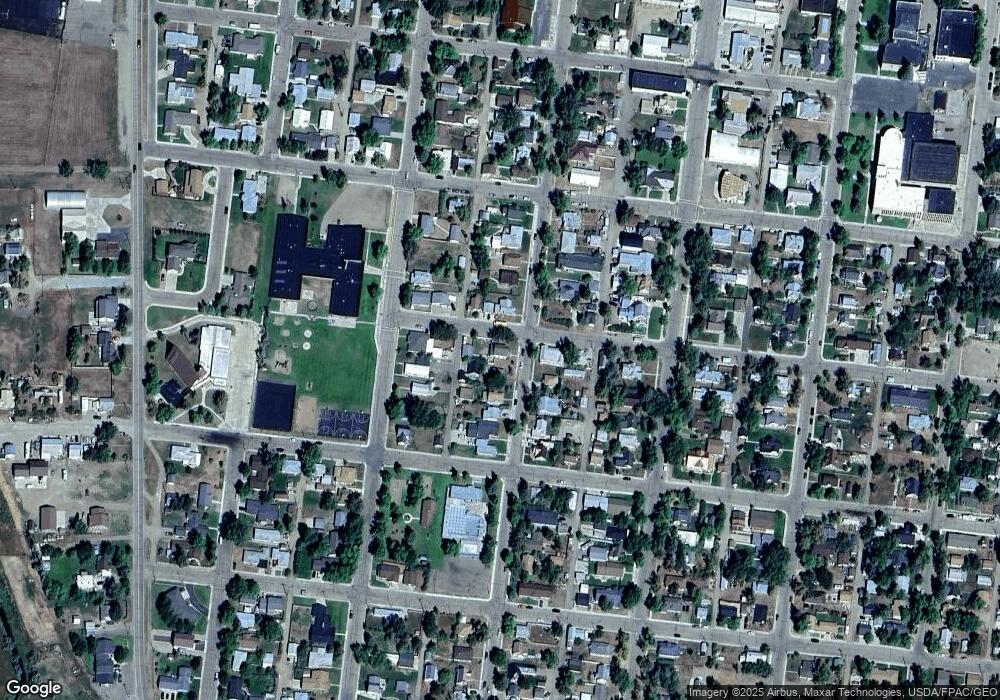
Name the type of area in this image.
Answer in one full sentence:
This looks like a residential area.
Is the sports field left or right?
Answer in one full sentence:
You can find the sports field on the left side of the picture.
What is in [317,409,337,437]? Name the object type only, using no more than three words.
basketball court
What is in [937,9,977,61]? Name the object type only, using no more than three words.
building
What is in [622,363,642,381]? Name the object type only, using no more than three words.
house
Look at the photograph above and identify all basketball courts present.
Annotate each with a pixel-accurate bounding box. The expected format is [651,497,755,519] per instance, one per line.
[334,410,353,439]
[351,412,369,442]
[317,409,337,437]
